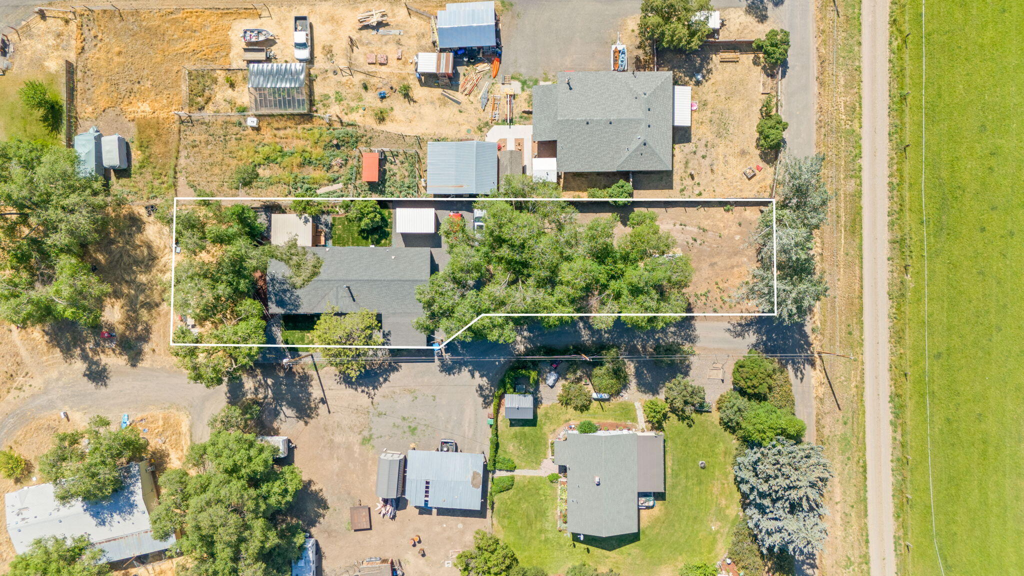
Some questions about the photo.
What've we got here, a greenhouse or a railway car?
greenhouse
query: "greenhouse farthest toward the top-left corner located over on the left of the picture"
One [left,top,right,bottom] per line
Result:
[249,63,311,114]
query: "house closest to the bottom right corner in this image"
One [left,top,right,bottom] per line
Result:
[554,431,664,541]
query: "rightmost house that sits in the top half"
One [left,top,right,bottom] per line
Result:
[533,69,691,183]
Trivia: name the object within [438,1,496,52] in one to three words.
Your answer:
barn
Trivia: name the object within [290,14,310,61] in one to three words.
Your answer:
vehicle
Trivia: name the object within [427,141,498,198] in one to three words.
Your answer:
building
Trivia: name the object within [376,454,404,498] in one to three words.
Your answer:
shed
